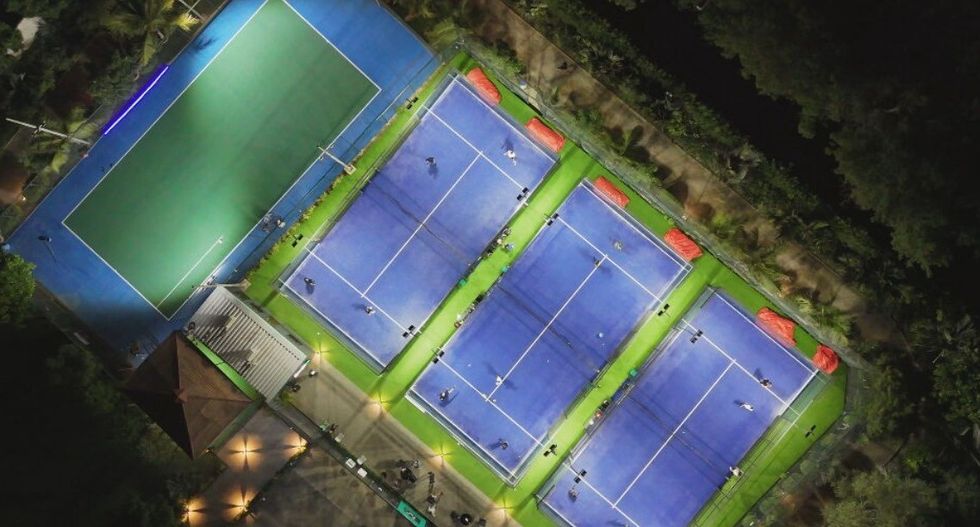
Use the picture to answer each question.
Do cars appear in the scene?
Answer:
No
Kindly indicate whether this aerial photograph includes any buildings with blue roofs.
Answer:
No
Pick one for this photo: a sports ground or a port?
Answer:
sports ground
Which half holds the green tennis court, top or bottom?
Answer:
top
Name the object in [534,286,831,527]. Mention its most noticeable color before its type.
blue sports court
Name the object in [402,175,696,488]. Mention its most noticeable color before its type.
blue sports court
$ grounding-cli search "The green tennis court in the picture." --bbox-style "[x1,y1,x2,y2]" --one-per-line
[2,0,440,366]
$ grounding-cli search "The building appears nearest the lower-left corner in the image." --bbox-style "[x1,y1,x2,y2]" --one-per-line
[122,330,256,460]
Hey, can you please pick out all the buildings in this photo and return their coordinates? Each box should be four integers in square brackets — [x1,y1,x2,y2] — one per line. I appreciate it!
[122,330,256,460]
[184,286,317,401]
